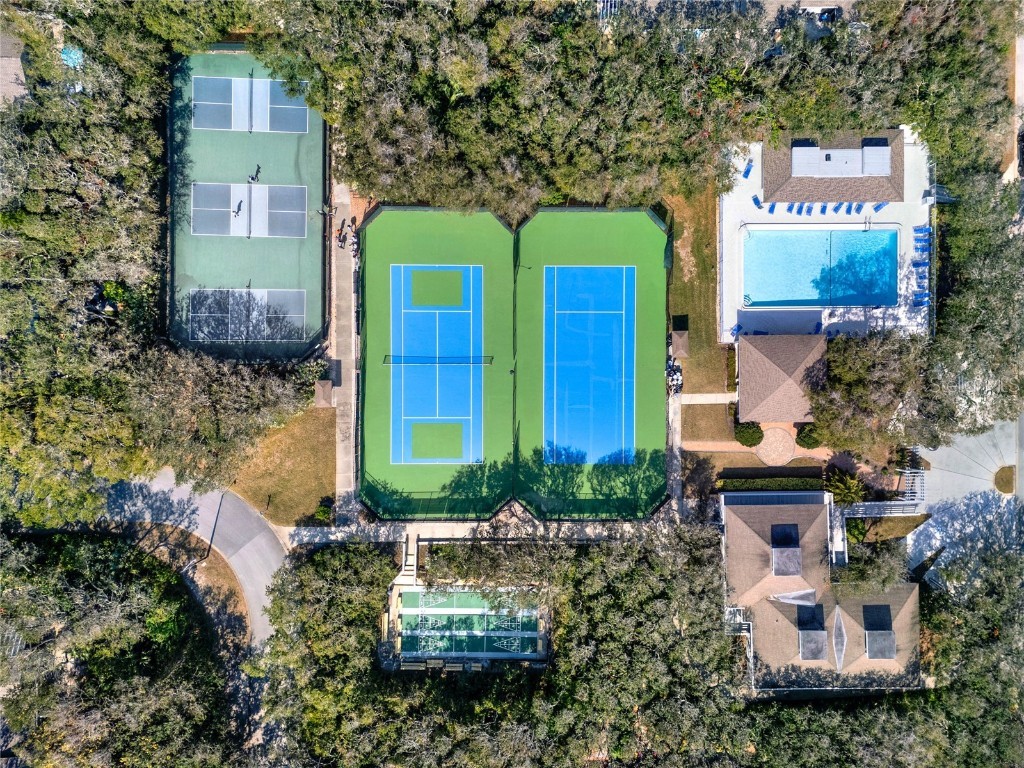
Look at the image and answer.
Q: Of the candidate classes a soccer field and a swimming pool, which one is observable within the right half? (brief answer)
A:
swimming pool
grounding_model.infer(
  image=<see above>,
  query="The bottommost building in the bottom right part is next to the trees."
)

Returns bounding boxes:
[724,504,919,689]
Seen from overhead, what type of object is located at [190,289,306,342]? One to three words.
sports court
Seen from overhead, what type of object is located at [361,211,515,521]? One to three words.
tennis court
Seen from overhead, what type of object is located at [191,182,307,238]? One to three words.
sports court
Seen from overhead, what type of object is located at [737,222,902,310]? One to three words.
swimming pool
